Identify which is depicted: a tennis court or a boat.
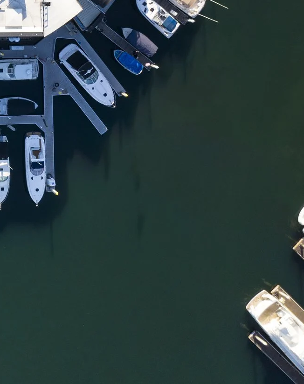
boat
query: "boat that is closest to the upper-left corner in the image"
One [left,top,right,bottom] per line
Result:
[0,58,39,83]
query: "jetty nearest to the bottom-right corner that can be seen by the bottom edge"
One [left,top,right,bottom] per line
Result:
[246,329,302,384]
